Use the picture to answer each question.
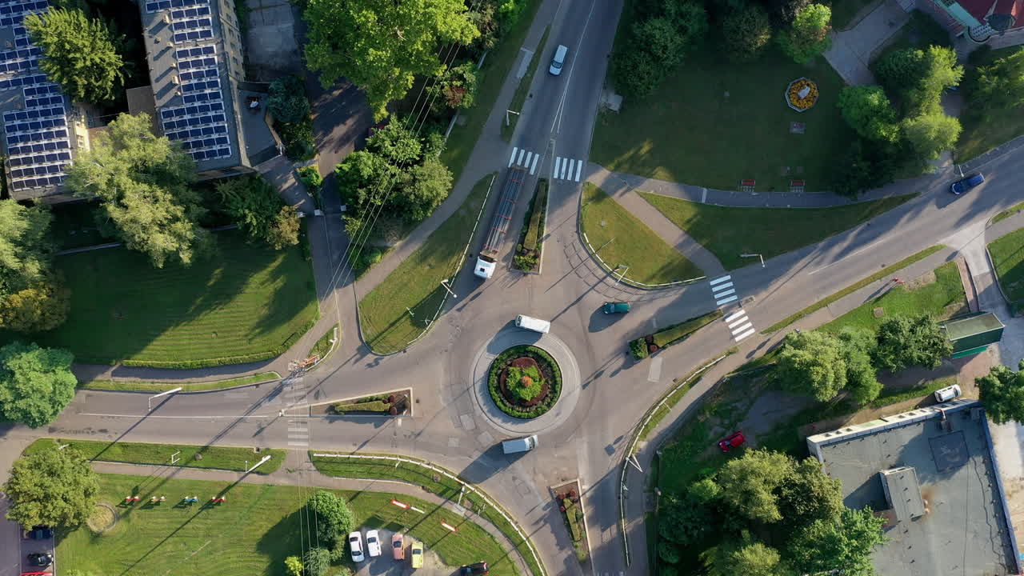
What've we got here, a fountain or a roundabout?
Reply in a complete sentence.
Looking from above, you can make out a roundabout.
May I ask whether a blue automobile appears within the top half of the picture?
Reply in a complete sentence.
Yes, looking within the top half of the picture, one can make out a blue automobile.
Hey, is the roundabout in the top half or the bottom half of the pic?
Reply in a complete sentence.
The bottom half of the photo is where the roundabout is.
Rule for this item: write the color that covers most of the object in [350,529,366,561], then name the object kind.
white car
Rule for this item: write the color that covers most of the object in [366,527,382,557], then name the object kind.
white car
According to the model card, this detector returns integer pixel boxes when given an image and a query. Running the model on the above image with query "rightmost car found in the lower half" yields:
[931,383,960,402]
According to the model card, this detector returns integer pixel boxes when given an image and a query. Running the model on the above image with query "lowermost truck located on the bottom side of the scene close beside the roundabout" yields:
[503,434,540,455]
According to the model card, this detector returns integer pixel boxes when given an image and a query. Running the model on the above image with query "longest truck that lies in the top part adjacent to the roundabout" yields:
[470,163,528,276]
